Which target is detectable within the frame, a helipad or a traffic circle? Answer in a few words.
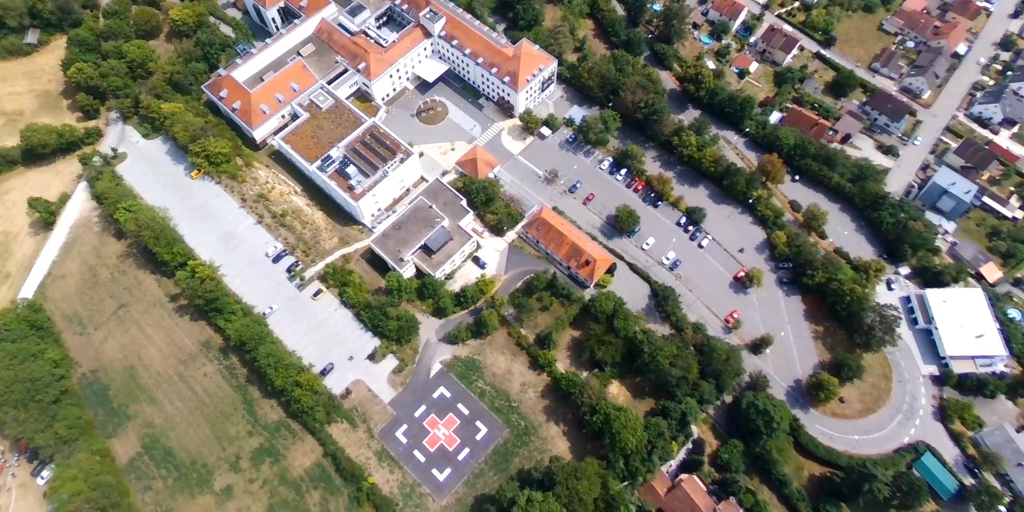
helipad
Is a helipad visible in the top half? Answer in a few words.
No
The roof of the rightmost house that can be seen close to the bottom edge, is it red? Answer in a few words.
No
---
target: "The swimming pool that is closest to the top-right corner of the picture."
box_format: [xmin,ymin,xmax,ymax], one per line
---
[735,25,753,39]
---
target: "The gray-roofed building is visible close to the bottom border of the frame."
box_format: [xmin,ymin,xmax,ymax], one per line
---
[969,415,1024,504]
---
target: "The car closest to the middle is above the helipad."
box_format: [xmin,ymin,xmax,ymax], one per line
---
[470,253,489,270]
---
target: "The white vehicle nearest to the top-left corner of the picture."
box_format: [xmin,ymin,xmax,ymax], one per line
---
[264,243,284,257]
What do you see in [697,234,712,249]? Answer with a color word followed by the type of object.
white car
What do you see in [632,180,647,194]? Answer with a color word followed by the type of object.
red car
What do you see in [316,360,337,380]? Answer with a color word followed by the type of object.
gray car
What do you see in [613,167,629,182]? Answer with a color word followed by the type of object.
white car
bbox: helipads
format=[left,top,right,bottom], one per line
[376,363,508,503]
